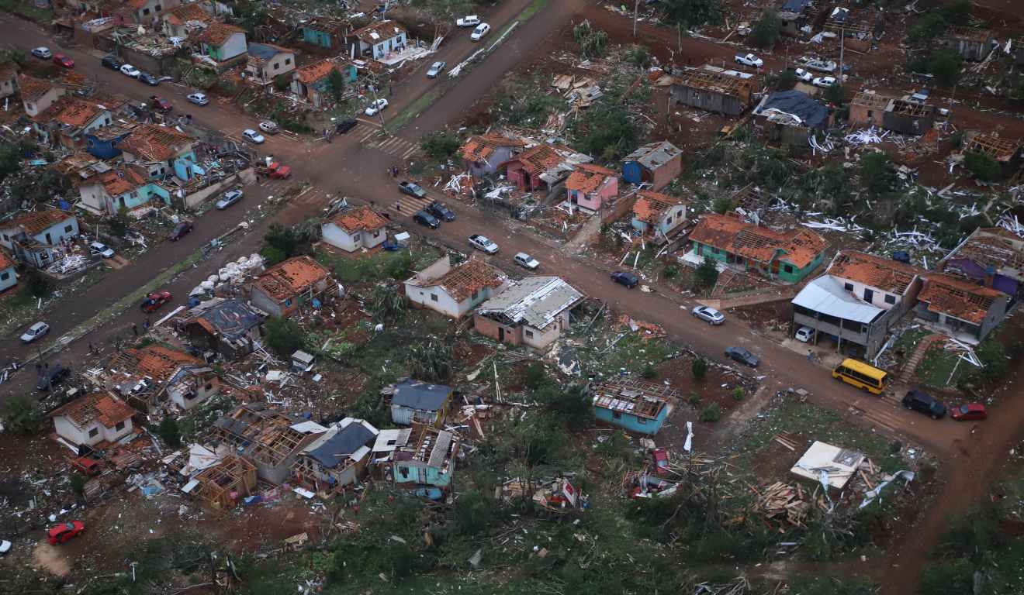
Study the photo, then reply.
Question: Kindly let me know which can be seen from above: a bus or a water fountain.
bus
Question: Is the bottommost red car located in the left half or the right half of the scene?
left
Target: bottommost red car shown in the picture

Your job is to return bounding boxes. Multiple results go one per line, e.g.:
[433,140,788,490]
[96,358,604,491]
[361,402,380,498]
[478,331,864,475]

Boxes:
[46,523,84,544]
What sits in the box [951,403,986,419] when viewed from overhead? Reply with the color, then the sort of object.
red car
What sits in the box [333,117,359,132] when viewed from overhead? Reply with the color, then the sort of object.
black vehicle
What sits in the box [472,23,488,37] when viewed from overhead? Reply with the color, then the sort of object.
white car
